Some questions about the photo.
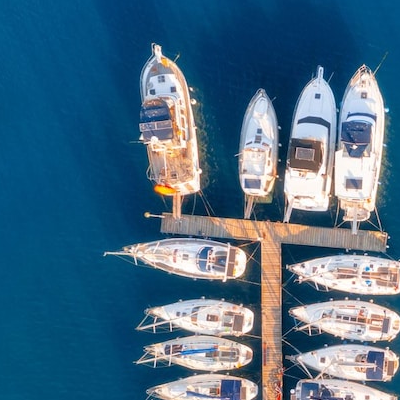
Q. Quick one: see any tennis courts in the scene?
No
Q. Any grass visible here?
No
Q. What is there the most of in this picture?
water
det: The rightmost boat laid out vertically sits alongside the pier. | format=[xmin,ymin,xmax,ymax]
[332,60,390,234]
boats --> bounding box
[125,42,209,219]
[283,340,400,381]
[141,370,262,400]
[332,60,390,234]
[152,184,177,194]
[131,299,262,338]
[232,85,284,226]
[283,297,400,343]
[280,62,338,227]
[283,373,400,400]
[128,334,262,373]
[283,250,400,298]
[101,234,263,281]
